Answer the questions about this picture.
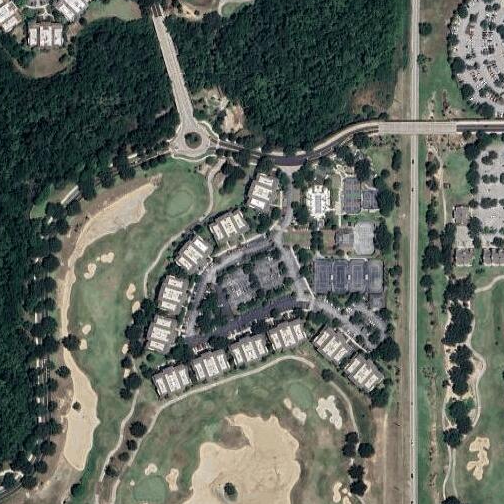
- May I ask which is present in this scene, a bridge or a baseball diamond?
bridge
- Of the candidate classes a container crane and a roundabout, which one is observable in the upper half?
roundabout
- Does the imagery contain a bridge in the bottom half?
No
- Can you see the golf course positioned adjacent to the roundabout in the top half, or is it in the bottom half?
bottom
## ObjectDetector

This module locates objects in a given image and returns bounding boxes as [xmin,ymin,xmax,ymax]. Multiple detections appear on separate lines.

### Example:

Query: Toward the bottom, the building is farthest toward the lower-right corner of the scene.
[342,354,384,395]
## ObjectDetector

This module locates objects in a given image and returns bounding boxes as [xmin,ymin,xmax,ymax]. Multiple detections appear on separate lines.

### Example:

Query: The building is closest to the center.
[208,206,249,245]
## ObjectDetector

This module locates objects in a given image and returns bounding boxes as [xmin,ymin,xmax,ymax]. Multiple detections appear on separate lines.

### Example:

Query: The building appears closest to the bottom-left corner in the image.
[152,364,192,401]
